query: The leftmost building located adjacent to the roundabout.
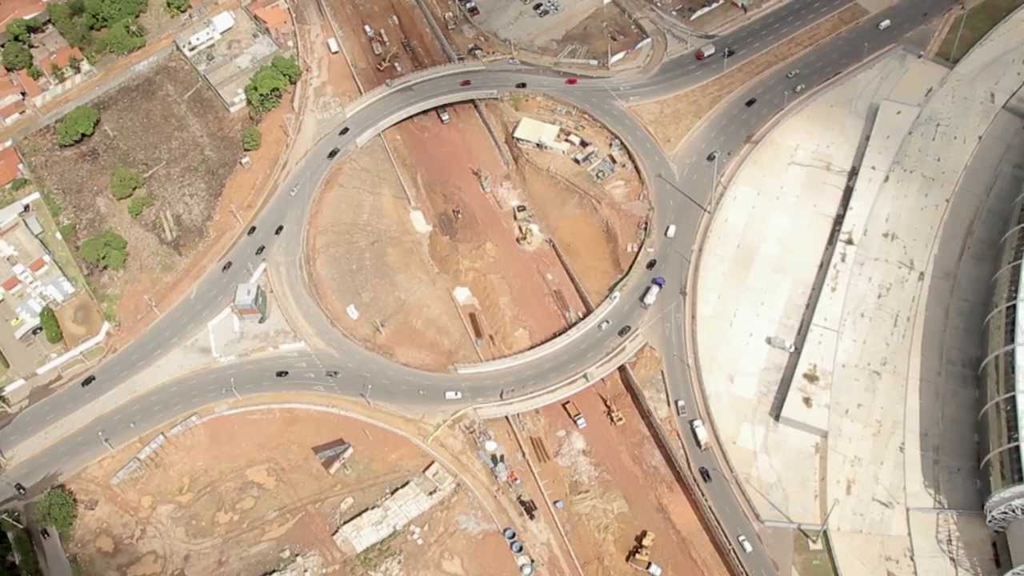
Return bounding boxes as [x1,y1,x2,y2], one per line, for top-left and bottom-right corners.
[234,280,269,324]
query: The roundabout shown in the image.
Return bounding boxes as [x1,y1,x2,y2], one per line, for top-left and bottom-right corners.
[266,64,703,414]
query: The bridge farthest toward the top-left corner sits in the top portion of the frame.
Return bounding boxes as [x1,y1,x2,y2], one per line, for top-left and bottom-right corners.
[341,56,504,150]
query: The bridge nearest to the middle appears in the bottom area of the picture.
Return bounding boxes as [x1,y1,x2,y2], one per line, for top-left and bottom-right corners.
[454,292,647,418]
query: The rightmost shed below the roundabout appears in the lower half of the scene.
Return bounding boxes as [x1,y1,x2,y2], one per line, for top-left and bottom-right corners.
[312,438,356,476]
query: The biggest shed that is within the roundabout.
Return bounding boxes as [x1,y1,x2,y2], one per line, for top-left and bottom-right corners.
[514,120,561,150]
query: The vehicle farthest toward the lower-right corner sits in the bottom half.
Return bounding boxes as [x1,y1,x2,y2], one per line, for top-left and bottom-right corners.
[738,535,751,552]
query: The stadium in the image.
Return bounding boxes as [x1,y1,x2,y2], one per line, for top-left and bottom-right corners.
[974,162,1024,492]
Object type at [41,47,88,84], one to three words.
house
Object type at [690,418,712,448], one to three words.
truck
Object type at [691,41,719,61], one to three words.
vehicle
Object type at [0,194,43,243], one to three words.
shed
